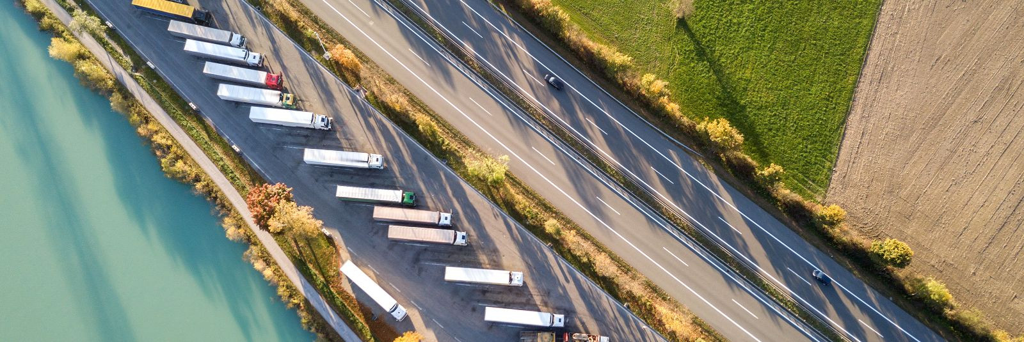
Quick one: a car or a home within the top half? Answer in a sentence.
The one visible within the top half is a car.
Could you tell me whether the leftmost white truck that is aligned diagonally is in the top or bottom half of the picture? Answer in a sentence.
The leftmost white truck that is aligned diagonally sits in the bottom half of the picture.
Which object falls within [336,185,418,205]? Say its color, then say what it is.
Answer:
white vehicle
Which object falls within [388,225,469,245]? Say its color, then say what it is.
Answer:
white vehicle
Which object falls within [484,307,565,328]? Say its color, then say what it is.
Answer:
white truck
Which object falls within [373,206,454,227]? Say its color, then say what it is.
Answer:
white truck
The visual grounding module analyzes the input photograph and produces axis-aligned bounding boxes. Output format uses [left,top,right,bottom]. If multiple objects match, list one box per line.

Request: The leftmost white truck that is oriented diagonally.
[340,260,411,322]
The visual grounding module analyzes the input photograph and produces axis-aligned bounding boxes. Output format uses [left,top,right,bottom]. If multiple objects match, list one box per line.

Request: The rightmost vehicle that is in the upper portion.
[544,75,564,91]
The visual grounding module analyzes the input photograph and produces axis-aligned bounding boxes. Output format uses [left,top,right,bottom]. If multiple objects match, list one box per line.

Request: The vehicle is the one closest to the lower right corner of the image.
[811,269,832,286]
